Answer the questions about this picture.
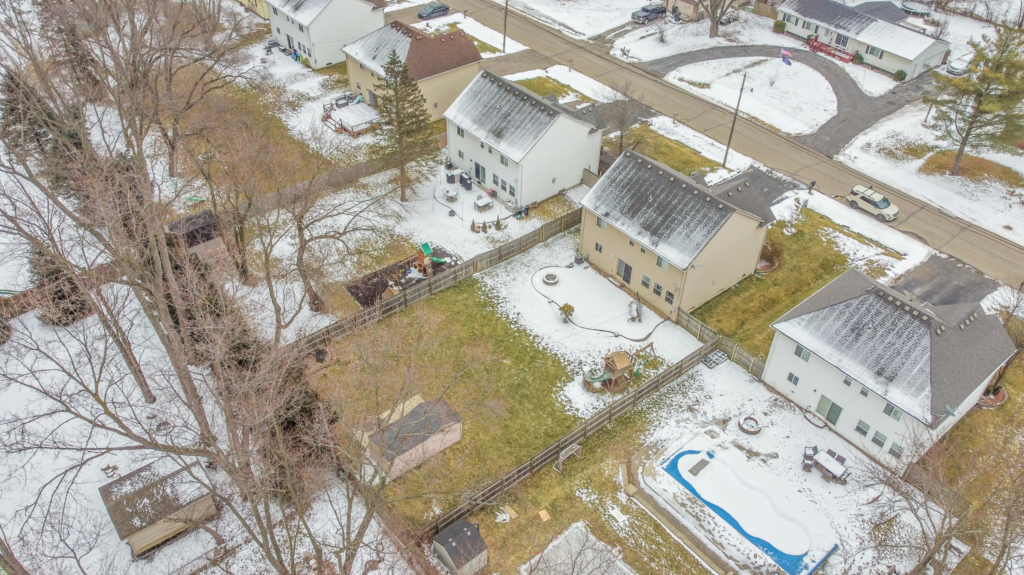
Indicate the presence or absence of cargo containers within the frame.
No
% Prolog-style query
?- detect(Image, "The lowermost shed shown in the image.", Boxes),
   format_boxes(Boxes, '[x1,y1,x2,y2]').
[433,519,487,575]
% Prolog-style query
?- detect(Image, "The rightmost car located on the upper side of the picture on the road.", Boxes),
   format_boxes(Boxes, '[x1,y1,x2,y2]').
[847,186,902,222]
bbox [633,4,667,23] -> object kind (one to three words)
vehicle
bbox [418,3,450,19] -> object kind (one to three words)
car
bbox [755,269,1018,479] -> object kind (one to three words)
house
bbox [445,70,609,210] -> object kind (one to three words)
house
